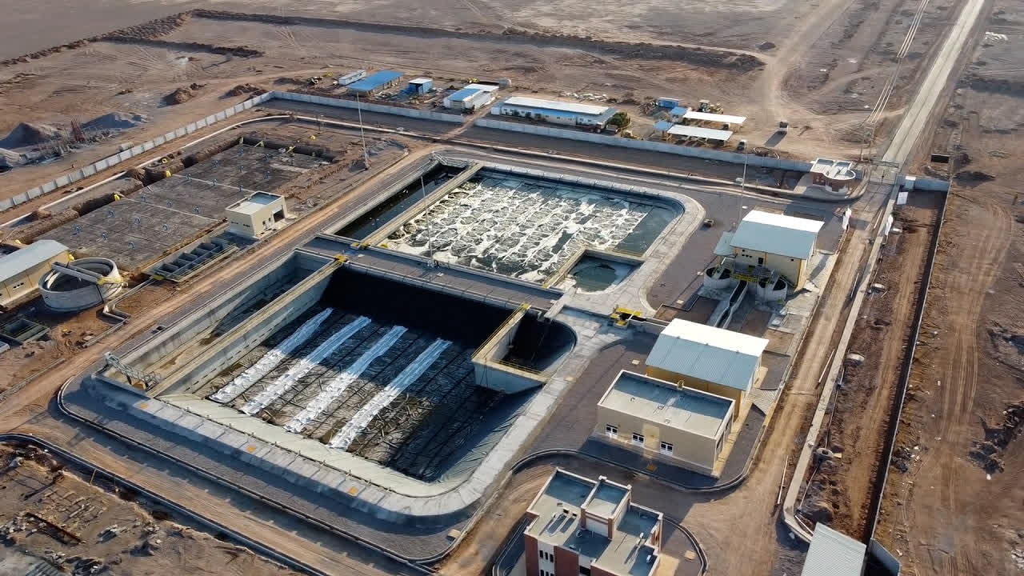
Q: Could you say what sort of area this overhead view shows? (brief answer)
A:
industrial area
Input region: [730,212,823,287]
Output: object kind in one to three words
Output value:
building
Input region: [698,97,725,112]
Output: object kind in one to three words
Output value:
work vehicle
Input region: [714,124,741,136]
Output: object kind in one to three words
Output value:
vehicle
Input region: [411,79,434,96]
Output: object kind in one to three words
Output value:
shed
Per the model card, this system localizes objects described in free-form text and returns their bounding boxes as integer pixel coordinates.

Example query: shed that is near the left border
[0,236,71,313]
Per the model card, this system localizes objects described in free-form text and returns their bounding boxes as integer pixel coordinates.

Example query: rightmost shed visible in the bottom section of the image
[801,524,869,576]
